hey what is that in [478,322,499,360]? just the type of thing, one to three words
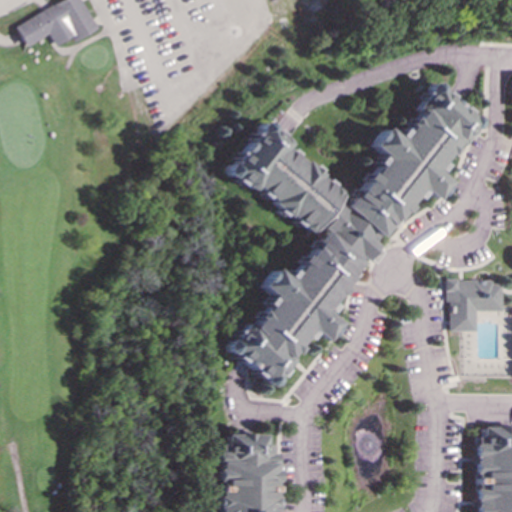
swimming pool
